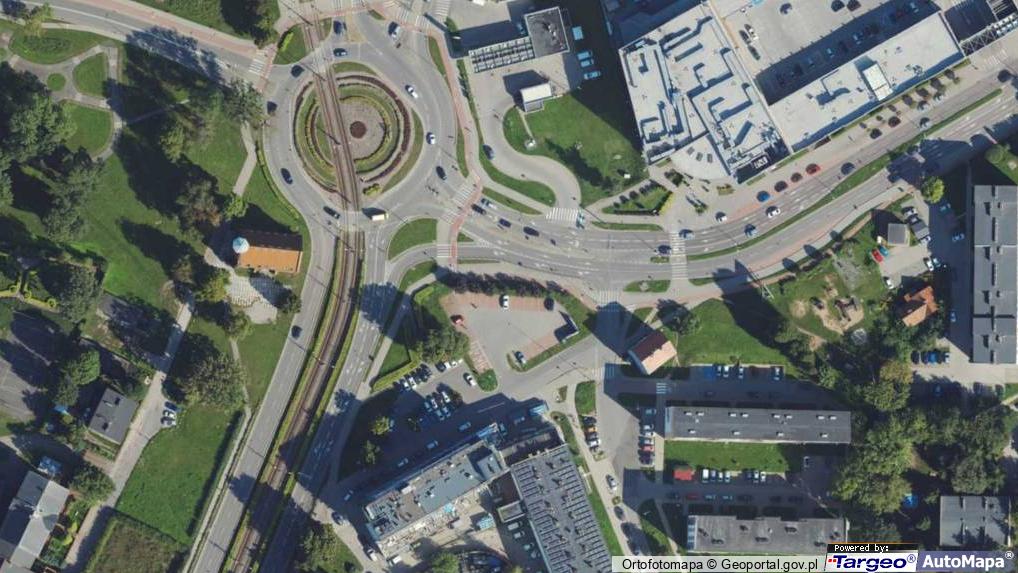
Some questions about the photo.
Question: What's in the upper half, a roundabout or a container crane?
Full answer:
The feature located in the upper half is a roundabout.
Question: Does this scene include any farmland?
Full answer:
No, there's no farmland in this view.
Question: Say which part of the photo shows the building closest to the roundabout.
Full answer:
The building closest to the roundabout is located in the left region of the scene.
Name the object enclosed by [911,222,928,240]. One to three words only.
vehicle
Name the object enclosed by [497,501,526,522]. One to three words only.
shed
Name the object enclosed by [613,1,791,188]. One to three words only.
building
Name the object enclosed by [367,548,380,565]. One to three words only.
vehicle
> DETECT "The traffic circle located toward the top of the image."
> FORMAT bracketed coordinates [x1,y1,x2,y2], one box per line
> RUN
[263,12,472,243]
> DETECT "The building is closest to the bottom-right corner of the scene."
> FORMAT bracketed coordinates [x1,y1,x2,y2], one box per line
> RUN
[936,496,1010,545]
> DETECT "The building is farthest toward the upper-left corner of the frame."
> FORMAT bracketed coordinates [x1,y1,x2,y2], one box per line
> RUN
[232,228,303,280]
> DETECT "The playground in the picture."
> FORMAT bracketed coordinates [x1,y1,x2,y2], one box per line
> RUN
[785,277,868,352]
